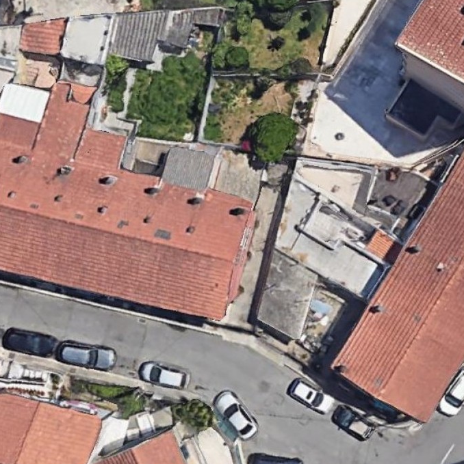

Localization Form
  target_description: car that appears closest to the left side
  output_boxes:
[0,326,57,360]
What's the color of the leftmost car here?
black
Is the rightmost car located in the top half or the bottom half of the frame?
bottom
